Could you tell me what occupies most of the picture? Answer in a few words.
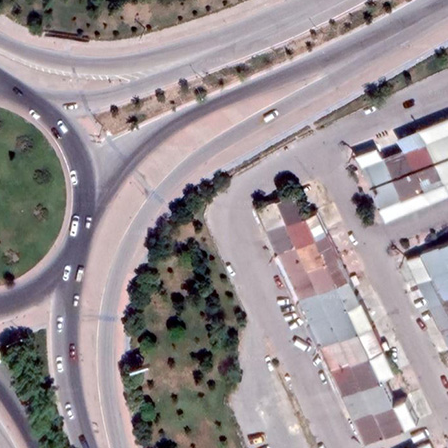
paved ground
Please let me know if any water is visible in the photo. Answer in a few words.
No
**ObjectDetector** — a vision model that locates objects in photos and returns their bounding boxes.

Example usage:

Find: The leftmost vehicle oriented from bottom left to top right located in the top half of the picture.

[264,109,281,122]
